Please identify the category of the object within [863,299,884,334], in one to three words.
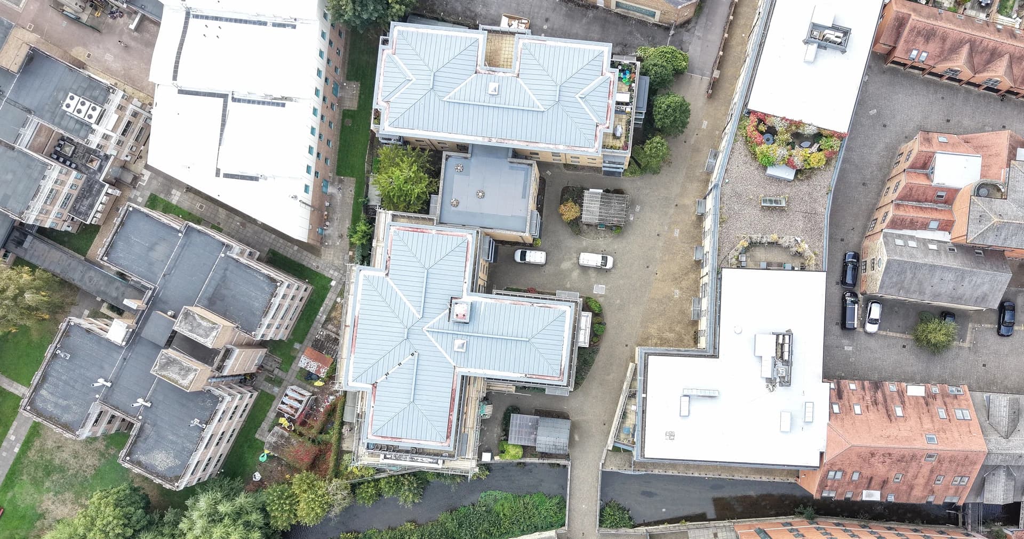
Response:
car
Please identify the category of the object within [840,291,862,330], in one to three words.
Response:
vehicle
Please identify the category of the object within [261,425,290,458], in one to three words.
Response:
shed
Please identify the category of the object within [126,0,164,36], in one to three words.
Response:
building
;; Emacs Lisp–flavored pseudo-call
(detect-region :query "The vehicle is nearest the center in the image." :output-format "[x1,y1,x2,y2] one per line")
[513,248,547,264]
